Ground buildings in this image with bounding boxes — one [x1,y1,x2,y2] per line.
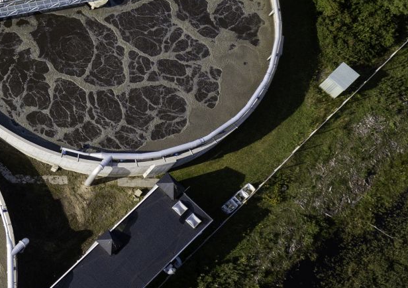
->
[38,177,208,288]
[313,60,361,104]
